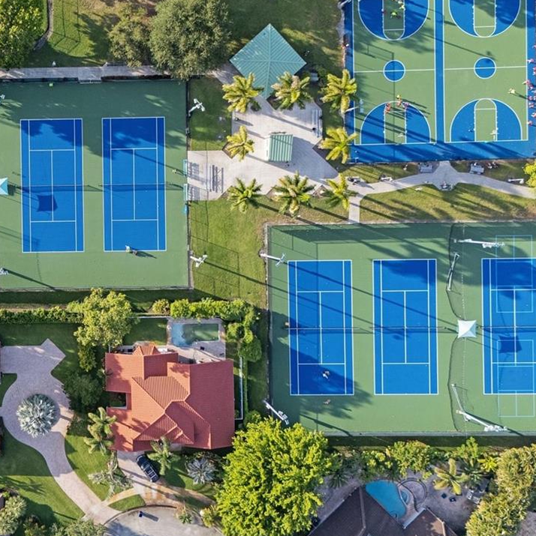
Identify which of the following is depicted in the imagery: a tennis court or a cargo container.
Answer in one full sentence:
It is a tennis court that can be seen here.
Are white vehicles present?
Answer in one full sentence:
No, there appears to be no white vehicle in this shot.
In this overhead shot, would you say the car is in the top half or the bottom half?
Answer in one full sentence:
The bottom half of the photo is where the car is.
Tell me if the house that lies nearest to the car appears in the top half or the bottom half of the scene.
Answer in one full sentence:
Seen from above, the house that lies nearest to the car lies in the bottom half of the view.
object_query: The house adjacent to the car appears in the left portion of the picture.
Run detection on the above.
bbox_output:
[106,345,235,452]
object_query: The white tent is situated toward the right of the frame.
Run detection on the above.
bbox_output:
[452,318,475,338]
